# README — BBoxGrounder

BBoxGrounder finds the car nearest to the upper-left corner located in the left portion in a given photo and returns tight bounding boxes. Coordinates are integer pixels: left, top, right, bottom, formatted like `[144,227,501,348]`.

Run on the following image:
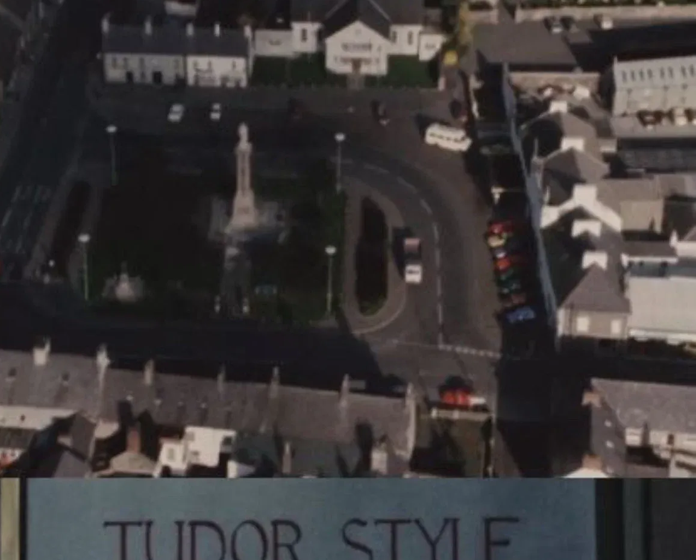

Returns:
[166,103,184,119]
